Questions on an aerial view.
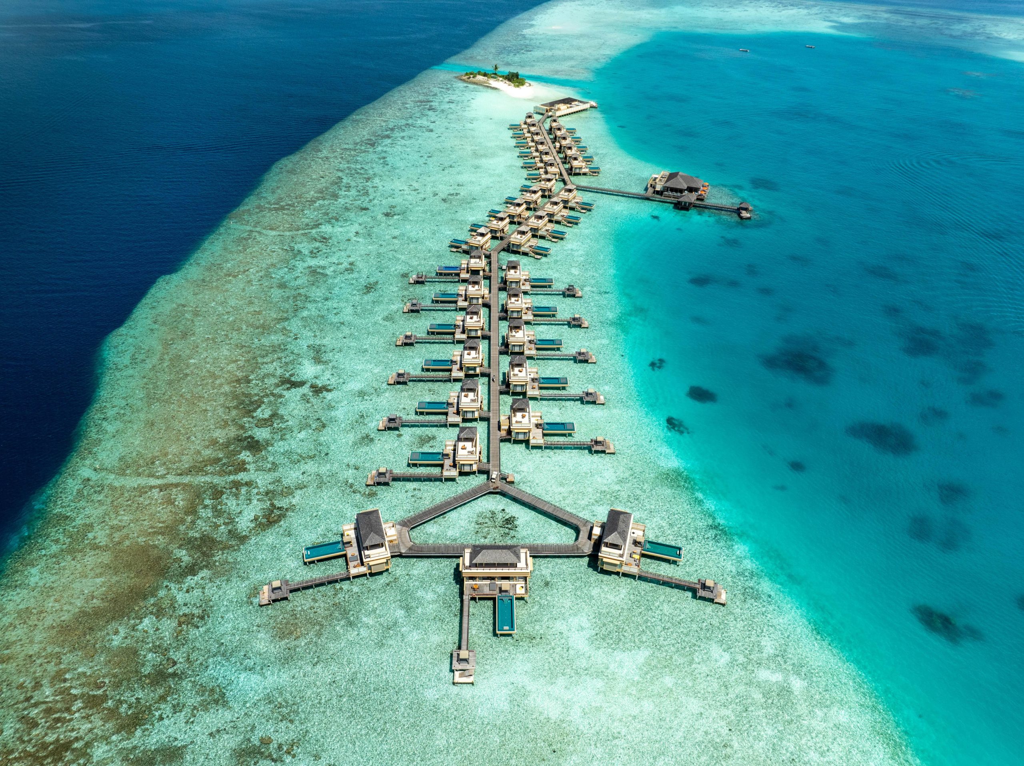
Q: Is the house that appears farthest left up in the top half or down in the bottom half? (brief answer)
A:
bottom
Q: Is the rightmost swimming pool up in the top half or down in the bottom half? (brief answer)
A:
bottom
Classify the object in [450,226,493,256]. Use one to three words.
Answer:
house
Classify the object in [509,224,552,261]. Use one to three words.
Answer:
house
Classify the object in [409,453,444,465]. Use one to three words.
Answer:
swimming pool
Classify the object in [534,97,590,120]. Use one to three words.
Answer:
building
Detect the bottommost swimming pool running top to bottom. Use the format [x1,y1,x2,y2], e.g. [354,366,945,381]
[496,598,514,639]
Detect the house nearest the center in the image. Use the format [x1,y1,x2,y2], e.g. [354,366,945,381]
[506,354,541,404]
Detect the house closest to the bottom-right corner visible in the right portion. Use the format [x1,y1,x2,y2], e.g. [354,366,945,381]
[593,507,647,584]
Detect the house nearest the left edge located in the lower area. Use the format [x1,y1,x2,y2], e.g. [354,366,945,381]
[345,508,398,584]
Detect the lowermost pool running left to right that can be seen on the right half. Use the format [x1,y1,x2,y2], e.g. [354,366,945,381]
[643,540,686,563]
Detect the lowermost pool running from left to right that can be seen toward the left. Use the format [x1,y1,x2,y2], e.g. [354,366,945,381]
[305,540,348,563]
